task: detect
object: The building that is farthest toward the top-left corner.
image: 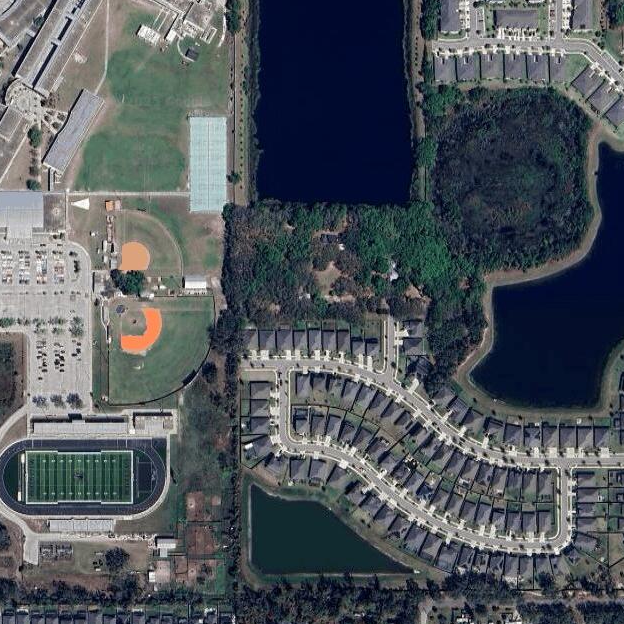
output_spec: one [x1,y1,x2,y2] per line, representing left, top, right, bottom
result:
[0,0,44,45]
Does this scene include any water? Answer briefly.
Yes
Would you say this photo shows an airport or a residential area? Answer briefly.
residential area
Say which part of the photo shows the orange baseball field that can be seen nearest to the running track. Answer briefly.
left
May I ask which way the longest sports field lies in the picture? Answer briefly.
horizontally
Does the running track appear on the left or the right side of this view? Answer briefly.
left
